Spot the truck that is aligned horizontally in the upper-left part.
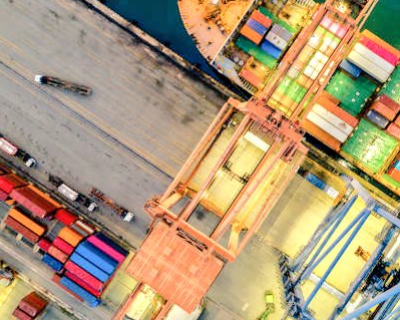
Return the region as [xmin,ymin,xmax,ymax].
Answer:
[32,71,95,96]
